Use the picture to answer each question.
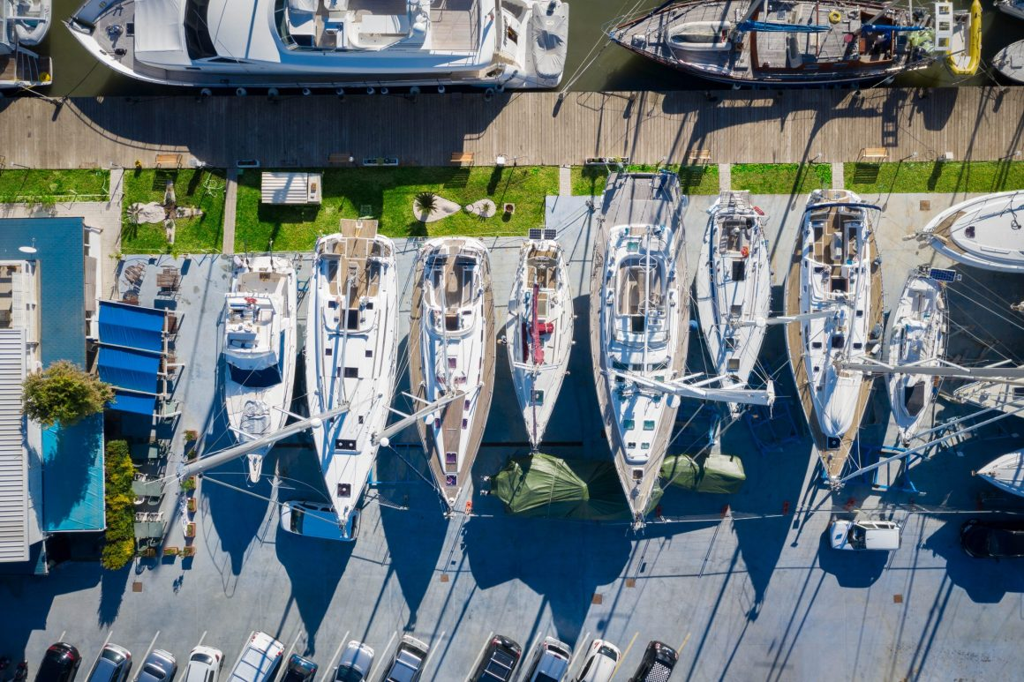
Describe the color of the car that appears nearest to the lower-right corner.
black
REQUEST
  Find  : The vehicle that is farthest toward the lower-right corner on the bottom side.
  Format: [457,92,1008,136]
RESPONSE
[953,516,1024,561]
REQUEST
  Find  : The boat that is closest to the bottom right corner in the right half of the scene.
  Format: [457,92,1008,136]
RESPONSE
[969,447,1024,496]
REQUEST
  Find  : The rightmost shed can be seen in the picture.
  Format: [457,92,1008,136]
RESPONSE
[262,173,329,210]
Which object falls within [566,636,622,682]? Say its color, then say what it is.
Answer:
white car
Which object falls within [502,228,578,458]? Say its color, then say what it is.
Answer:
white boat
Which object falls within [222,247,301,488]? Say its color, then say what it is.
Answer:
white boat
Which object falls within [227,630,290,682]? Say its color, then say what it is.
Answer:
white car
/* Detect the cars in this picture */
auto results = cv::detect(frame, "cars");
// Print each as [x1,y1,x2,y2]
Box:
[953,516,1024,561]
[566,636,622,682]
[325,638,378,682]
[174,642,227,682]
[375,633,432,682]
[515,632,574,682]
[83,639,138,682]
[277,651,322,682]
[624,639,679,682]
[227,630,290,682]
[26,638,83,682]
[465,632,524,682]
[134,647,184,682]
[824,517,906,558]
